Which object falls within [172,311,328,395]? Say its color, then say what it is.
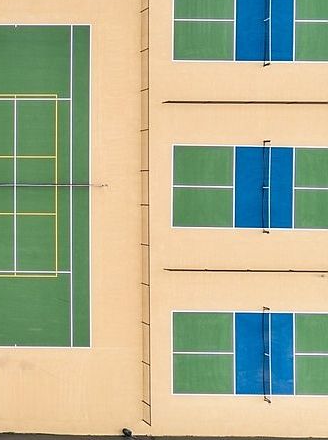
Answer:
green sports court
